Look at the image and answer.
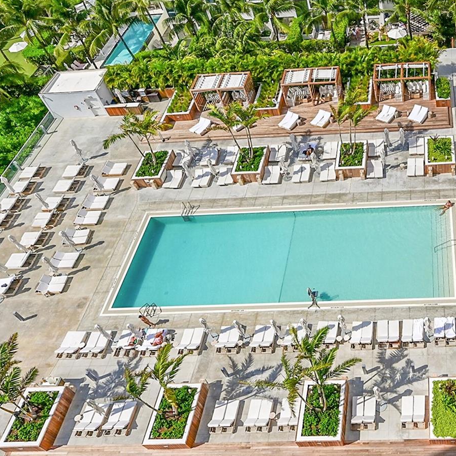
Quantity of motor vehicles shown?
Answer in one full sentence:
Not a single motor vehicle can be seen.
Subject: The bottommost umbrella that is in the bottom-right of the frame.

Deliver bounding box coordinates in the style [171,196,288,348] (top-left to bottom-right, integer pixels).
[373,384,388,411]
